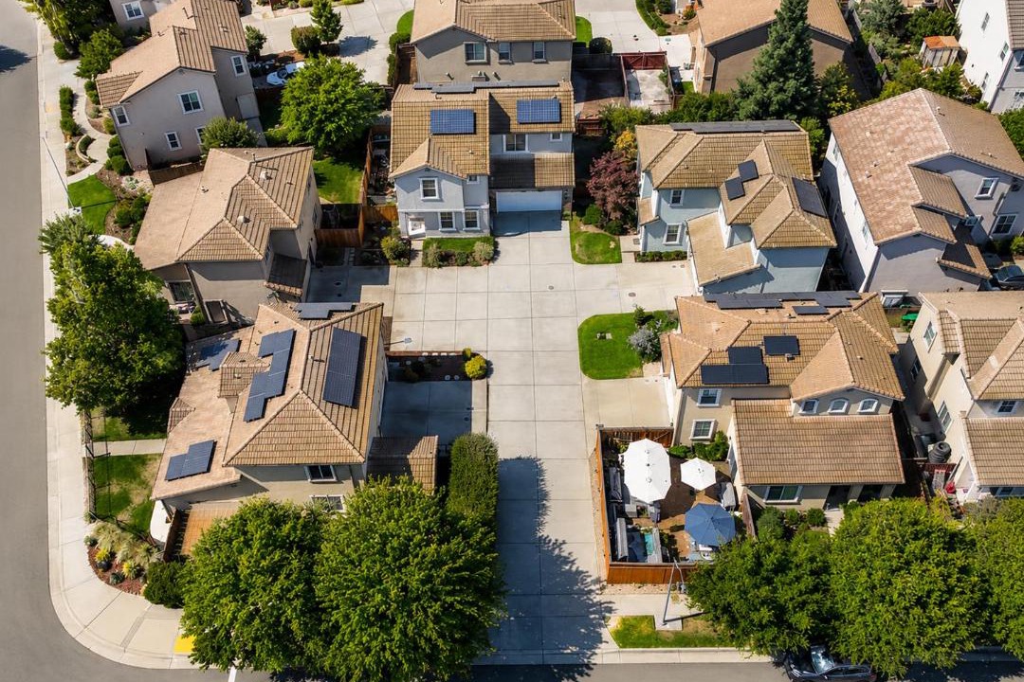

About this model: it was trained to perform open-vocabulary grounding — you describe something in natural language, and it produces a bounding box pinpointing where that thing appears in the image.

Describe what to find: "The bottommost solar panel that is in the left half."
[165,437,214,478]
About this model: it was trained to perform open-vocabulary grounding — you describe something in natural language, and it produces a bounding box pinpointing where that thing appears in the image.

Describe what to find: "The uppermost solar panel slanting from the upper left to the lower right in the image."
[793,174,824,213]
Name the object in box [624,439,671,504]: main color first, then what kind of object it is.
white umbrella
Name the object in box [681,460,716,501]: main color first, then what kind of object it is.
white umbrella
